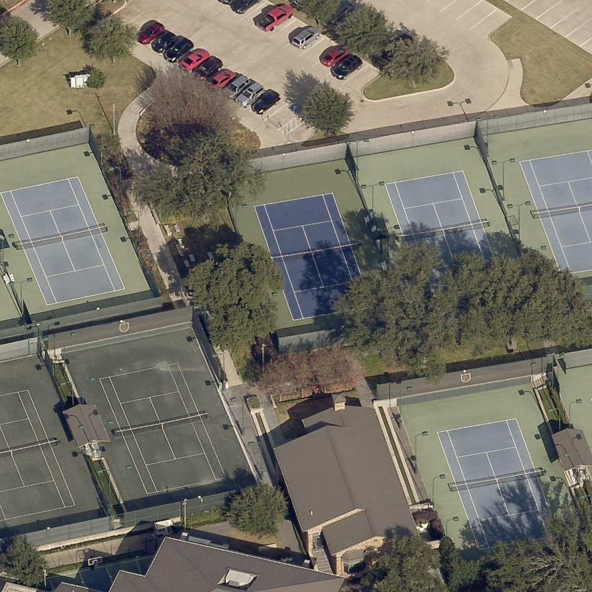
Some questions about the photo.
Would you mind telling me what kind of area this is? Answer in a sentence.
What you see here is a sports ground.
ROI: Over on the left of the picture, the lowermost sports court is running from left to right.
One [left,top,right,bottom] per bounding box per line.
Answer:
[43,552,157,592]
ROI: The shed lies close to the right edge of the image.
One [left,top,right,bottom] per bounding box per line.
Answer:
[551,427,592,496]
